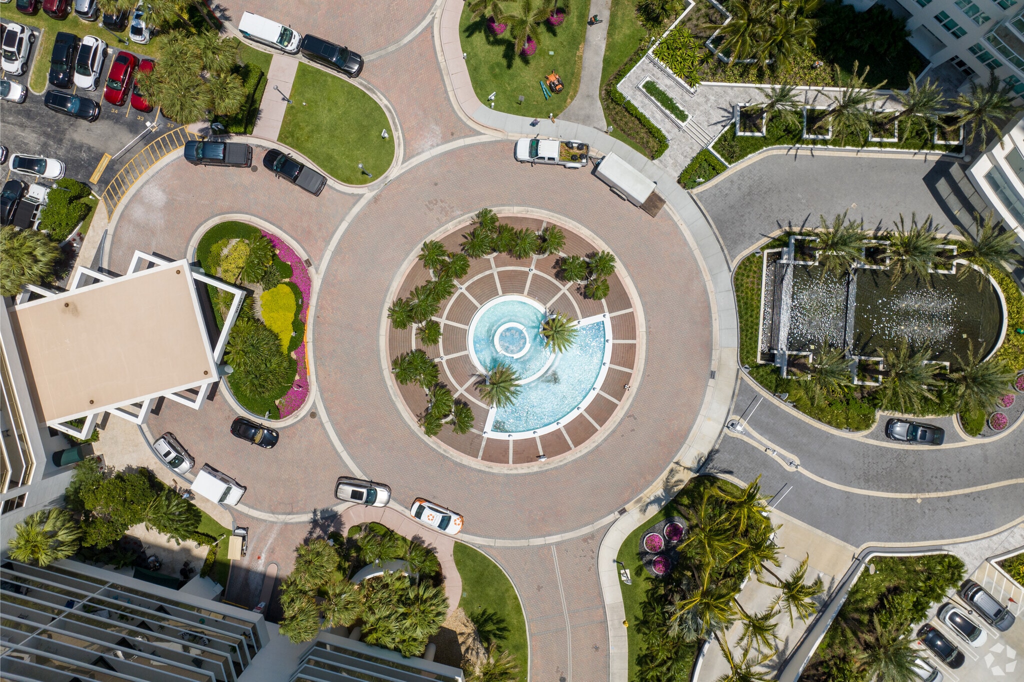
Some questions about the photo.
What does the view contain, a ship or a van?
van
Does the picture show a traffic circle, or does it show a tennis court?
traffic circle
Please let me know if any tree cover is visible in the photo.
Yes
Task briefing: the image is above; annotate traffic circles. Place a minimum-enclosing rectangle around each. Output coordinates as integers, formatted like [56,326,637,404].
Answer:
[307,131,718,551]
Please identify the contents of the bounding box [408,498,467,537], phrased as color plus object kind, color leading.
white car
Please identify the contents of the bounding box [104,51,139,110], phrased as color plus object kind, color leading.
red car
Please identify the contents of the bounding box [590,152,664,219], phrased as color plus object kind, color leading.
white trailer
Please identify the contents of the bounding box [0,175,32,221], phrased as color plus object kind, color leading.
black car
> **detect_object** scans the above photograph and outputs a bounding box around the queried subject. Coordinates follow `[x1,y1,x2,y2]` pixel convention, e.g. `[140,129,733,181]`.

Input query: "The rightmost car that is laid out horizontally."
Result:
[882,417,945,445]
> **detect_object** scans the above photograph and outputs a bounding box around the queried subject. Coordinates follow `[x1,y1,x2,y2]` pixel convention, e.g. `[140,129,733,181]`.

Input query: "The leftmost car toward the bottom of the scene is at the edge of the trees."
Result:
[152,429,199,479]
